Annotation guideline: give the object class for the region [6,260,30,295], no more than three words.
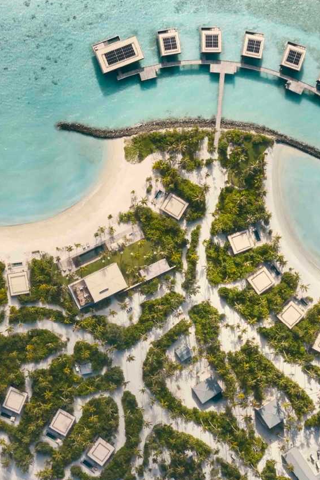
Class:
house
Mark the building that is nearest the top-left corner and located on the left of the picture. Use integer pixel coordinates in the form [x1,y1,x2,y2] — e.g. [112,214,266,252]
[93,35,144,74]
